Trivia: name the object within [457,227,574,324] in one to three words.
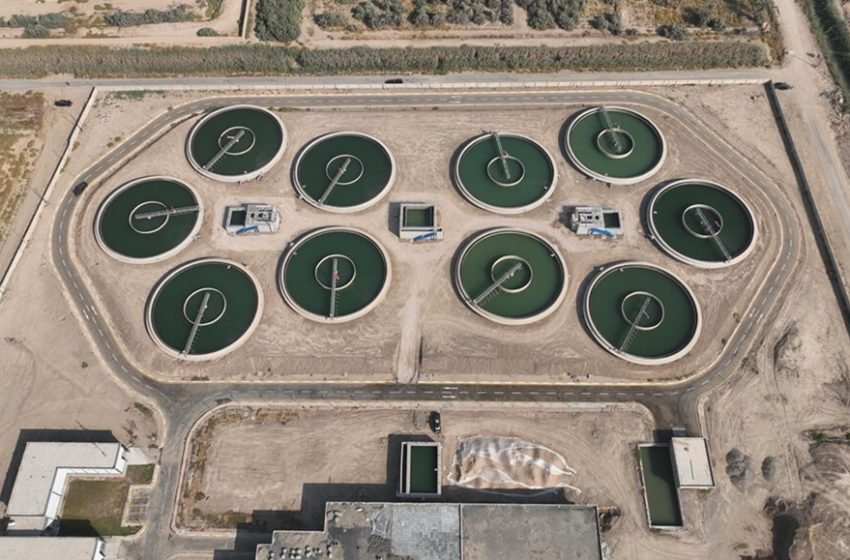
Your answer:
water tank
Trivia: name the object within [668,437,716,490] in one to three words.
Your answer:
building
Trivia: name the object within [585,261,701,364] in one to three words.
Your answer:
water tank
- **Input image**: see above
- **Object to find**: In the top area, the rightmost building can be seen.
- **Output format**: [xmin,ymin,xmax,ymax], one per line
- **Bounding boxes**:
[570,205,623,237]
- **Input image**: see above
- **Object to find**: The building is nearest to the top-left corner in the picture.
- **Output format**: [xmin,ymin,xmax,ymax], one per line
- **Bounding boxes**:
[226,203,281,235]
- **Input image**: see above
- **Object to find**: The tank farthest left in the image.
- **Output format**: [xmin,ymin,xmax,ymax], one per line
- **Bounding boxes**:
[95,175,203,263]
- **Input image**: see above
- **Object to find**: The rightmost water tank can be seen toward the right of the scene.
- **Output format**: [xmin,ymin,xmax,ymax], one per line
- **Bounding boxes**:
[647,179,756,268]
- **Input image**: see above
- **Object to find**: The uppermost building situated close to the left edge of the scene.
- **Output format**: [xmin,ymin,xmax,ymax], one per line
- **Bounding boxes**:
[6,442,129,519]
